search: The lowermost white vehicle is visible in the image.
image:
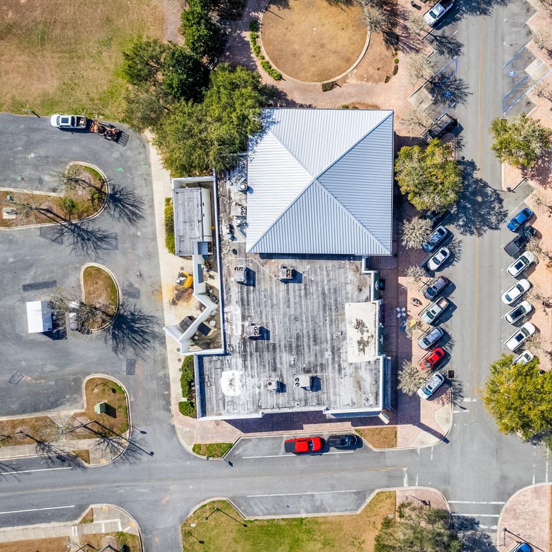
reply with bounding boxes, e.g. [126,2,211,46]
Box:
[420,372,446,400]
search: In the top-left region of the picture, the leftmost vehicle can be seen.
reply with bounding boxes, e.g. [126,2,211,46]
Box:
[50,113,87,129]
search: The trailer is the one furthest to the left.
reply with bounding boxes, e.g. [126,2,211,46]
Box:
[27,292,54,333]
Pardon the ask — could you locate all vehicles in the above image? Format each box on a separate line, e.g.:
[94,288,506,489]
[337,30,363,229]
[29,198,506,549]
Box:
[421,112,459,145]
[417,325,446,351]
[420,204,447,229]
[502,279,531,305]
[423,226,449,253]
[421,346,446,371]
[426,246,453,273]
[507,251,534,278]
[507,207,533,232]
[505,227,534,258]
[69,301,84,332]
[420,372,446,400]
[284,437,324,454]
[505,300,531,326]
[420,296,452,326]
[326,434,361,449]
[512,543,532,552]
[50,113,87,129]
[505,323,534,352]
[422,274,450,301]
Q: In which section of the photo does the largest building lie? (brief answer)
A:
center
